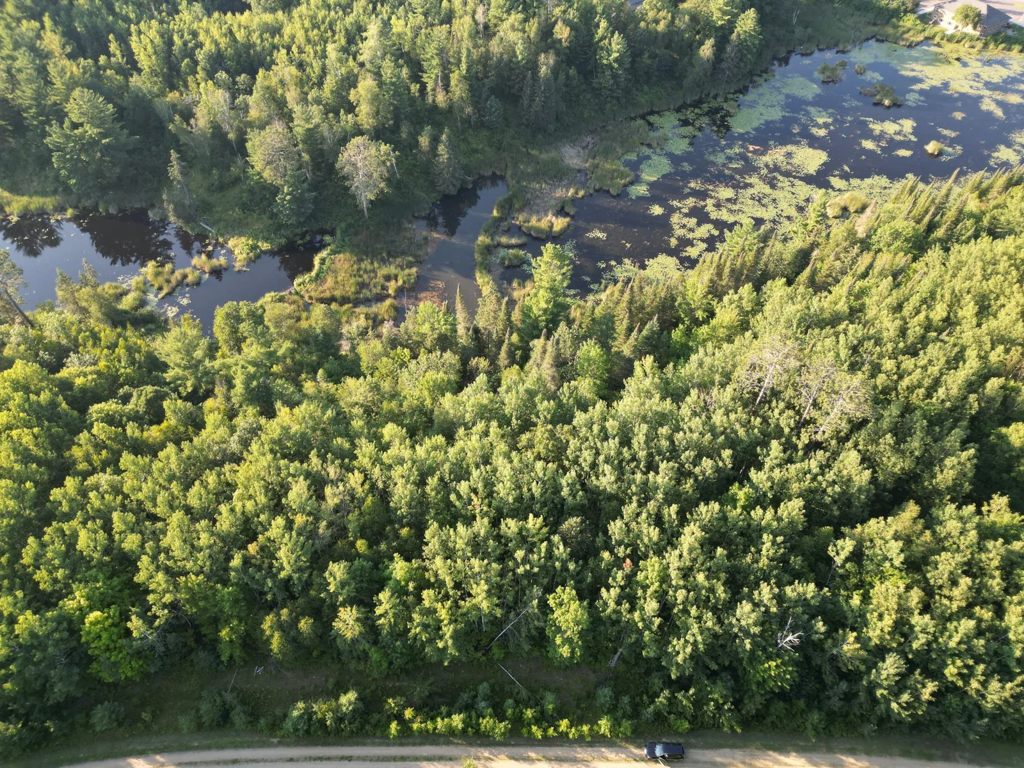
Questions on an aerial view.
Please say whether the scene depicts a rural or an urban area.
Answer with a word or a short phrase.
rural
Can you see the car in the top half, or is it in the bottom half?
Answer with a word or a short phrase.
bottom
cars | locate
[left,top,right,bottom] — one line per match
[645,740,686,768]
